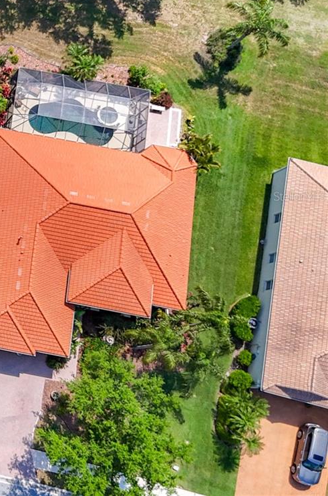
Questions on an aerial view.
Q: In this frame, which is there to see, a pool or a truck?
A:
pool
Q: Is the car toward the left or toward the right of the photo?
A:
right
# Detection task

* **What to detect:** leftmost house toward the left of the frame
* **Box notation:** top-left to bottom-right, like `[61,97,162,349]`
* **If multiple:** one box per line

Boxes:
[0,128,200,358]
